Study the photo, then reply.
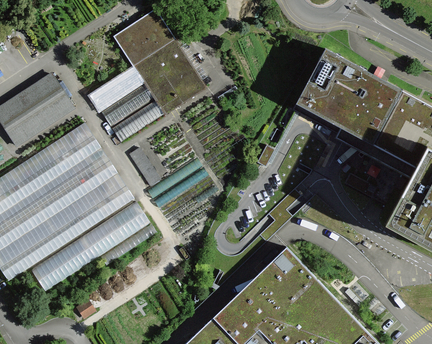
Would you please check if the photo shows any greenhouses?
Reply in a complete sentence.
Yes, a greenhouse appears in the view.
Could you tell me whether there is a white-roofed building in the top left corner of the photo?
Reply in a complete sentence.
Yes, the scene does show a white-roofed building in the top left corner of the photo.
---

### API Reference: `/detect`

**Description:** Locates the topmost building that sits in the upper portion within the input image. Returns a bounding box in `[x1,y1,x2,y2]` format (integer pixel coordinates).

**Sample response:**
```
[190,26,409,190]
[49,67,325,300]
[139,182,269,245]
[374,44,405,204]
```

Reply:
[114,12,175,65]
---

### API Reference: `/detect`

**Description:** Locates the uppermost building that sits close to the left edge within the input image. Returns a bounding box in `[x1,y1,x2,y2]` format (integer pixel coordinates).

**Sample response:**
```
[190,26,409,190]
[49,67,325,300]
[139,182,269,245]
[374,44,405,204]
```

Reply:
[0,72,74,145]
